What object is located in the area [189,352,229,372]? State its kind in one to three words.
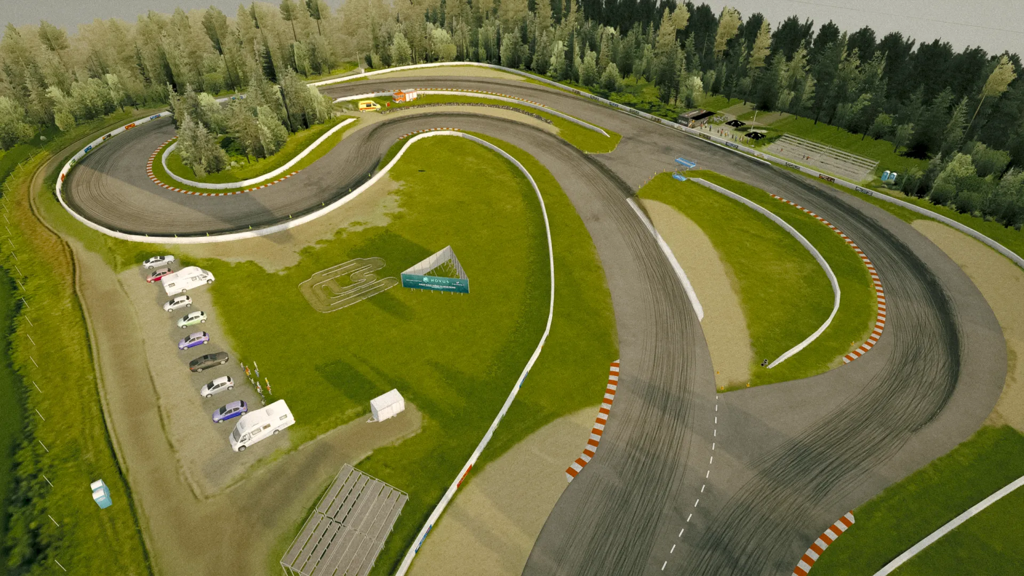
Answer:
car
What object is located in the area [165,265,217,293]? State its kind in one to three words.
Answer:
camper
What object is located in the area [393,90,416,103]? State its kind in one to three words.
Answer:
vehicle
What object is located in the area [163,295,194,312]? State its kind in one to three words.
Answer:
car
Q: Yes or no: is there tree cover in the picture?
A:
Yes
